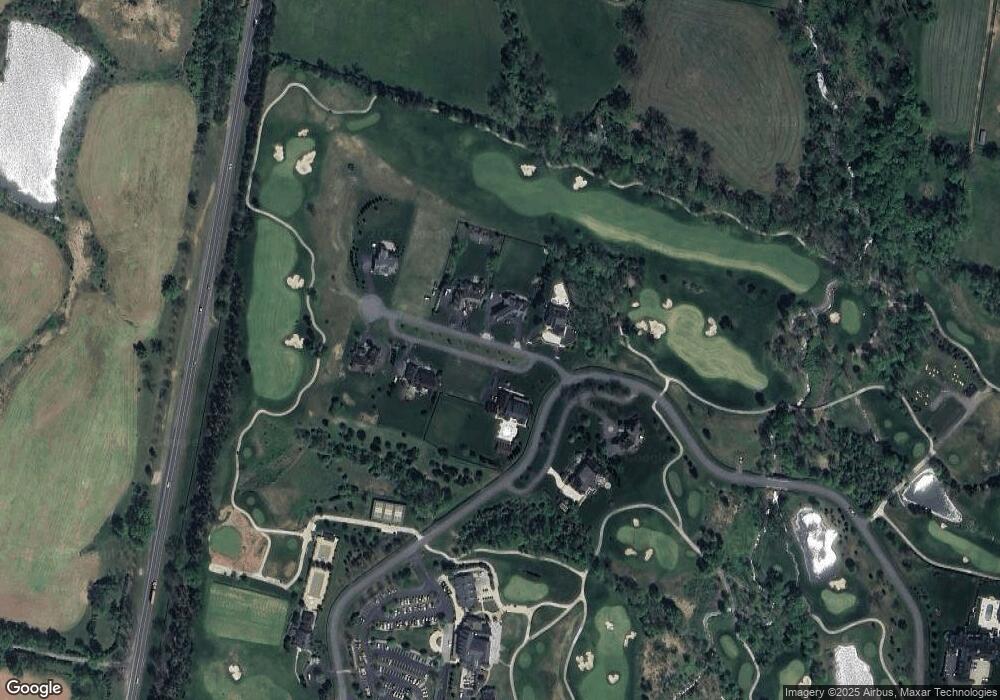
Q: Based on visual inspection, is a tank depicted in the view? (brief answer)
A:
No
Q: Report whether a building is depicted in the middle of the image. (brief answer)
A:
Yes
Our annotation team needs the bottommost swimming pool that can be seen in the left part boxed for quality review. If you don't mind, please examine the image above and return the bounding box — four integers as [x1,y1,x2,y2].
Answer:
[305,566,329,608]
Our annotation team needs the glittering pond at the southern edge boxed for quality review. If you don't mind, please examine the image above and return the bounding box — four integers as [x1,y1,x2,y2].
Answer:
[833,643,876,700]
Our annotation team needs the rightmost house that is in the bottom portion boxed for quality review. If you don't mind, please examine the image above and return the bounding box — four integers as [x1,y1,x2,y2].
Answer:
[943,625,1000,675]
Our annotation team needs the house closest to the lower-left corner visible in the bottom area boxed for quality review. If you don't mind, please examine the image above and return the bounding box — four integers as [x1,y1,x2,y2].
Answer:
[289,610,316,654]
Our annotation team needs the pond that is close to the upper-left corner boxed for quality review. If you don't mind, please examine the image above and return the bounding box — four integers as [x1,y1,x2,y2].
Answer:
[0,21,92,207]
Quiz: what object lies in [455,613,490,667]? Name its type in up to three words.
building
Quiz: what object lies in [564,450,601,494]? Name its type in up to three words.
house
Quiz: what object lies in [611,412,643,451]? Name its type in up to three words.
house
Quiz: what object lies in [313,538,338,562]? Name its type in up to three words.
swimming pool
